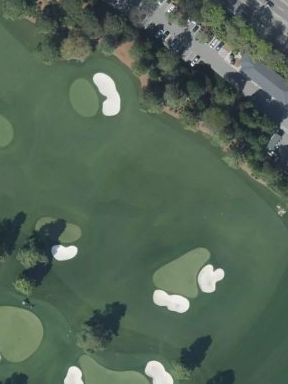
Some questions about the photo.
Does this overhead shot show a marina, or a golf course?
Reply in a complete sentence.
This image shows a golf course.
